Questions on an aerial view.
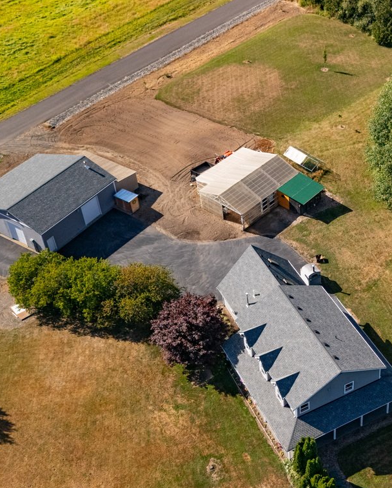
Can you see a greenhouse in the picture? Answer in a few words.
Yes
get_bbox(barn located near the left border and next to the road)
[0,154,119,258]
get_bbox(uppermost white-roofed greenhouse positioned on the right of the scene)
[192,149,300,231]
